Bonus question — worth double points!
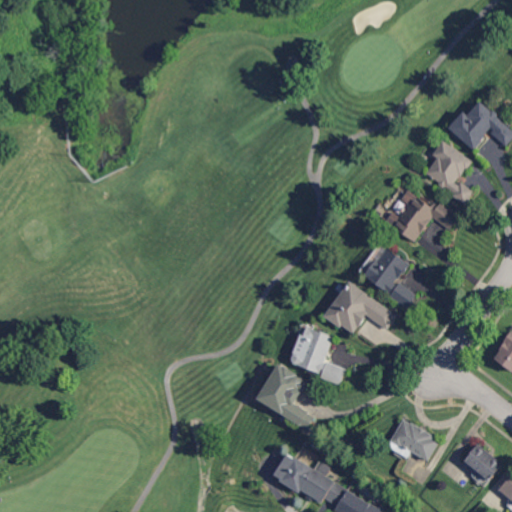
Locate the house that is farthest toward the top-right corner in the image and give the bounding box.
[450,102,512,148]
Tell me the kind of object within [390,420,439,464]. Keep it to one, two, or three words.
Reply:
house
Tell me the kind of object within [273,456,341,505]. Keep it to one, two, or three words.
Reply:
house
